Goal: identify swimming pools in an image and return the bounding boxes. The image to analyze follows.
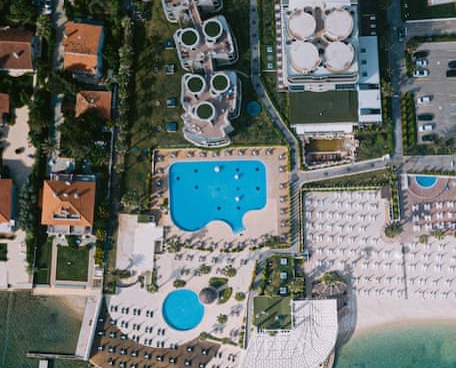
[166,157,269,234]
[414,176,439,189]
[160,287,206,333]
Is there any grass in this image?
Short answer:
Yes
